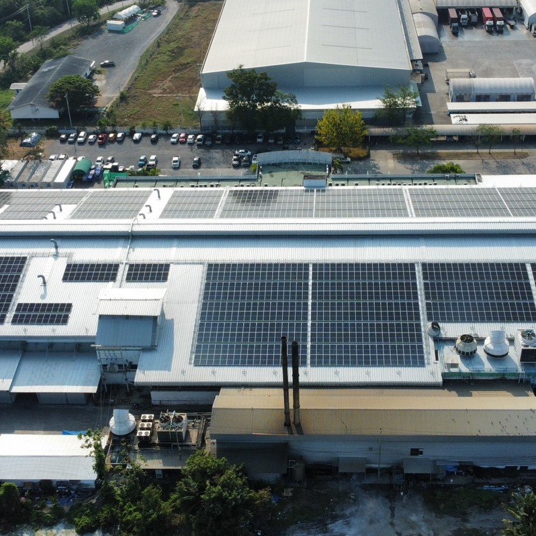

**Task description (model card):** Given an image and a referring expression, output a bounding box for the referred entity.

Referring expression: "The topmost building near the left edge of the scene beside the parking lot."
[11,54,94,123]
